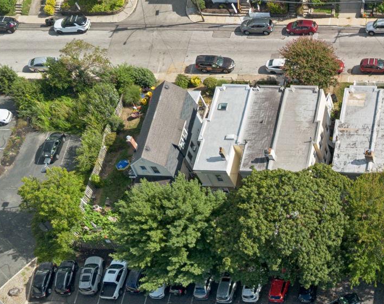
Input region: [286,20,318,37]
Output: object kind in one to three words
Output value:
car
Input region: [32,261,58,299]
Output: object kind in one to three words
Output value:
car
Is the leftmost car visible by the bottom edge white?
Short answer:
No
